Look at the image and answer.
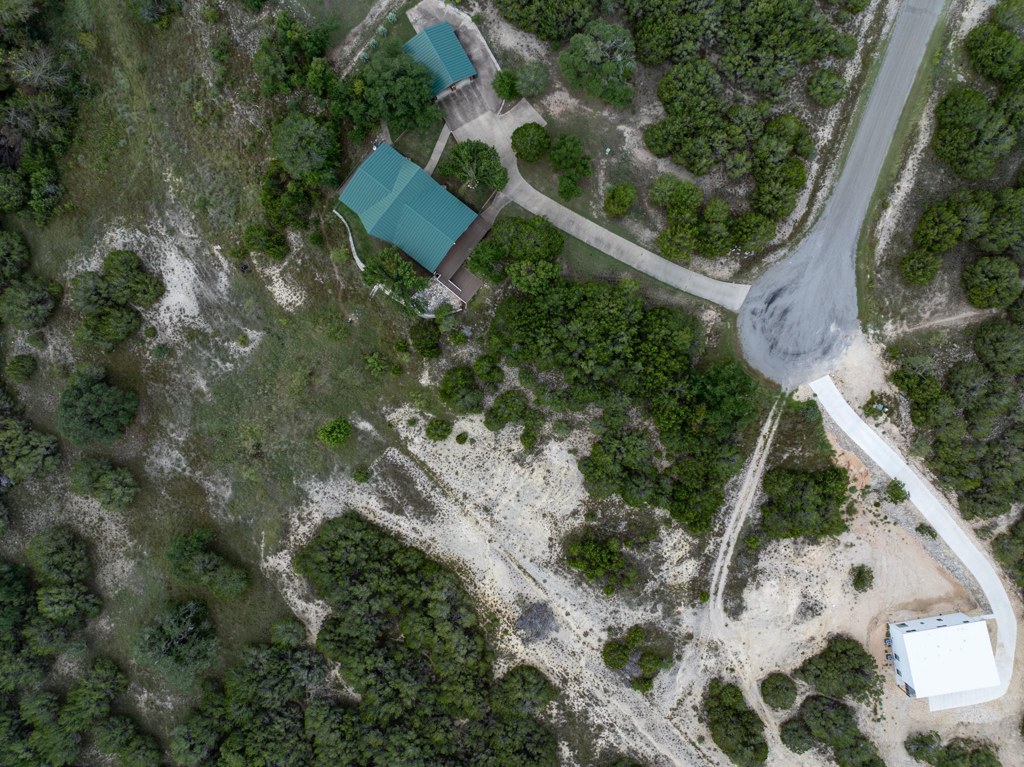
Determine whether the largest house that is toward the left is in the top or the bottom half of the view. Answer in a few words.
top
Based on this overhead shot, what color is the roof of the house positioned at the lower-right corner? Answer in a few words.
white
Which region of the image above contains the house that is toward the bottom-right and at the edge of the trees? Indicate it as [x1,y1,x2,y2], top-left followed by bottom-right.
[888,609,999,701]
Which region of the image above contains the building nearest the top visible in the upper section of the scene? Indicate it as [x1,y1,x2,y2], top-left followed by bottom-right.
[402,21,478,104]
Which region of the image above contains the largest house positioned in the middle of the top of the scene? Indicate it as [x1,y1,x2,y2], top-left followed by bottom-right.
[336,141,478,273]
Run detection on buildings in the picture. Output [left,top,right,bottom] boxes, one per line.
[888,609,999,701]
[336,141,478,273]
[402,21,478,104]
